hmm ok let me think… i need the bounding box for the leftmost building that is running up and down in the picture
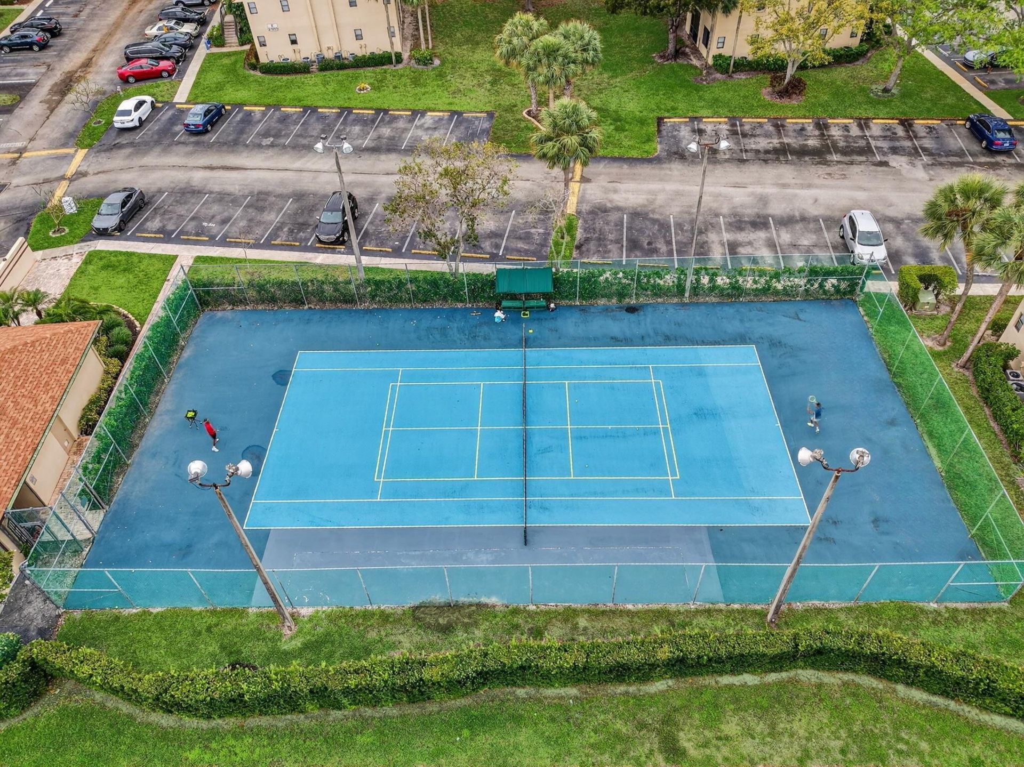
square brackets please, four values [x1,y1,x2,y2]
[0,321,105,543]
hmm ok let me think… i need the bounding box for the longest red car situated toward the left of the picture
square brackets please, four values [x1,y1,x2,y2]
[114,56,175,82]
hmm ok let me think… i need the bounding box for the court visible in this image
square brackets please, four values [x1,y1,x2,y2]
[65,300,1000,606]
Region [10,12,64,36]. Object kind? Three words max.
car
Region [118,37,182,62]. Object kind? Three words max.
car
